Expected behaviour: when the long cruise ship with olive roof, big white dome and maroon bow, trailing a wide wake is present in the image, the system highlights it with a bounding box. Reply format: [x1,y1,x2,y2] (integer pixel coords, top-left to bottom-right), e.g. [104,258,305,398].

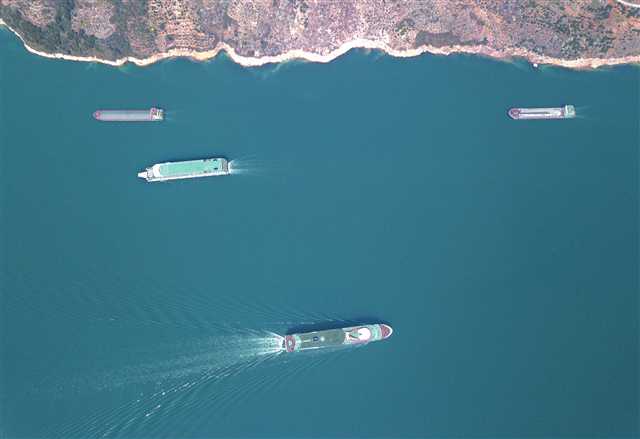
[284,323,392,352]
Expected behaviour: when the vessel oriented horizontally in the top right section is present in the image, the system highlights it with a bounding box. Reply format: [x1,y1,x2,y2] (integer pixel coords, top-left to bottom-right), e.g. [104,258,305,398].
[507,106,576,119]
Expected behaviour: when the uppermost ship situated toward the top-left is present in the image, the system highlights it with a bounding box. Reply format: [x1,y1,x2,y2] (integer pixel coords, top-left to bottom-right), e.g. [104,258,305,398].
[93,109,164,121]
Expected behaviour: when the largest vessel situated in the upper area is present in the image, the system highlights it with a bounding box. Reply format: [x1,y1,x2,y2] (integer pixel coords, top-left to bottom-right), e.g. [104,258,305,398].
[138,159,231,182]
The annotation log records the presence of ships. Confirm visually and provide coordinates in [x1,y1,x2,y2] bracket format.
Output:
[93,109,164,121]
[284,323,392,352]
[507,106,576,119]
[138,159,231,182]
